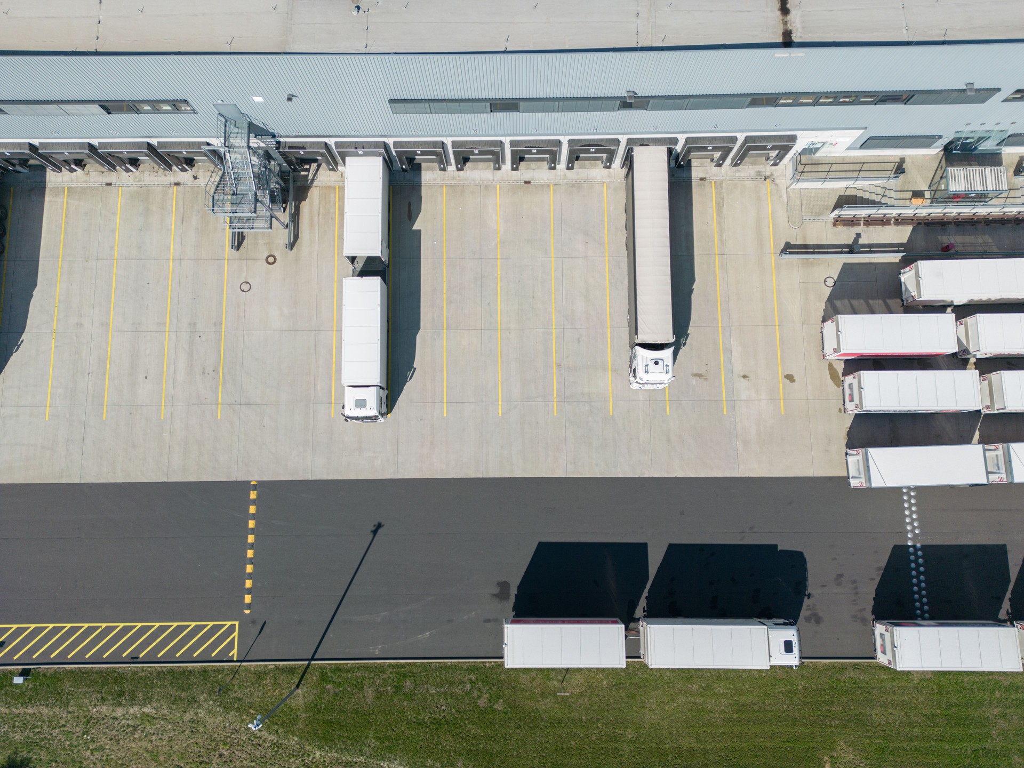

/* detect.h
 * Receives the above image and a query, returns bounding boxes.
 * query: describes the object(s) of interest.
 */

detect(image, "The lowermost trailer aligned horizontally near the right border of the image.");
[869,616,1021,671]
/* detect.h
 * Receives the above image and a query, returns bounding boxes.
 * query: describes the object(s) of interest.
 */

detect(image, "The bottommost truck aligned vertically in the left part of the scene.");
[342,276,389,423]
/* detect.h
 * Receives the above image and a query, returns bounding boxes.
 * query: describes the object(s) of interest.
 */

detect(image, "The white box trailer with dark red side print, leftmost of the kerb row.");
[503,613,634,667]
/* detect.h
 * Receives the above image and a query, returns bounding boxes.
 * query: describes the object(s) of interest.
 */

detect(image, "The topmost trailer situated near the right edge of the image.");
[893,259,1024,310]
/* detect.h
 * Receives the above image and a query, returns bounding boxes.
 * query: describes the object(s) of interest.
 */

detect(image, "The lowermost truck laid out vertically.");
[1001,617,1024,665]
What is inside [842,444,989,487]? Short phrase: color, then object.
white trailer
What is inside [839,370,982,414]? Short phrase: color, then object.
white trailer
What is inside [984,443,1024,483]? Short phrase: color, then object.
white truck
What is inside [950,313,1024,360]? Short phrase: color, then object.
white truck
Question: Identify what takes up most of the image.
paved ground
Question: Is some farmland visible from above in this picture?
No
